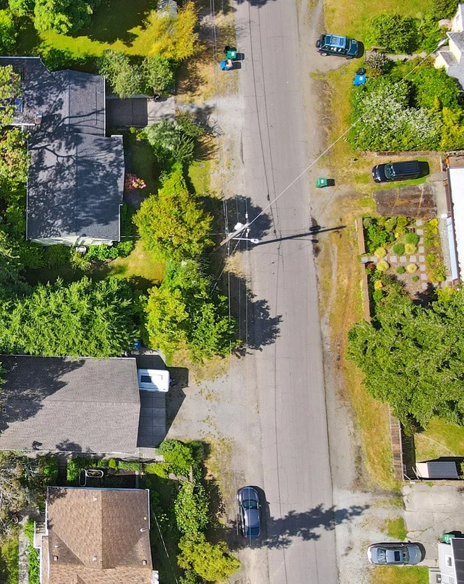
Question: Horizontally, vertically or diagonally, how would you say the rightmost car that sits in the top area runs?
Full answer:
The rightmost car that sits in the top area has been laid out horizontally relative to the frame.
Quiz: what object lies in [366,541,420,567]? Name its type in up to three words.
car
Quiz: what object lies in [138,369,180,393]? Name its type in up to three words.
camper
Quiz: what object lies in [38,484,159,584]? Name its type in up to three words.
house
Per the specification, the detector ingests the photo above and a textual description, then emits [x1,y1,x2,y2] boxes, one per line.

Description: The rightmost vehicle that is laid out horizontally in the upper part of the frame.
[368,158,424,185]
